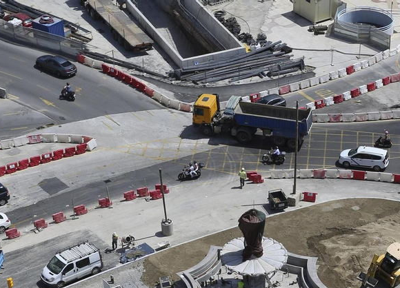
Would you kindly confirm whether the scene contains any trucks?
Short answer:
Yes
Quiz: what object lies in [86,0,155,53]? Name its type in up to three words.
trailer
